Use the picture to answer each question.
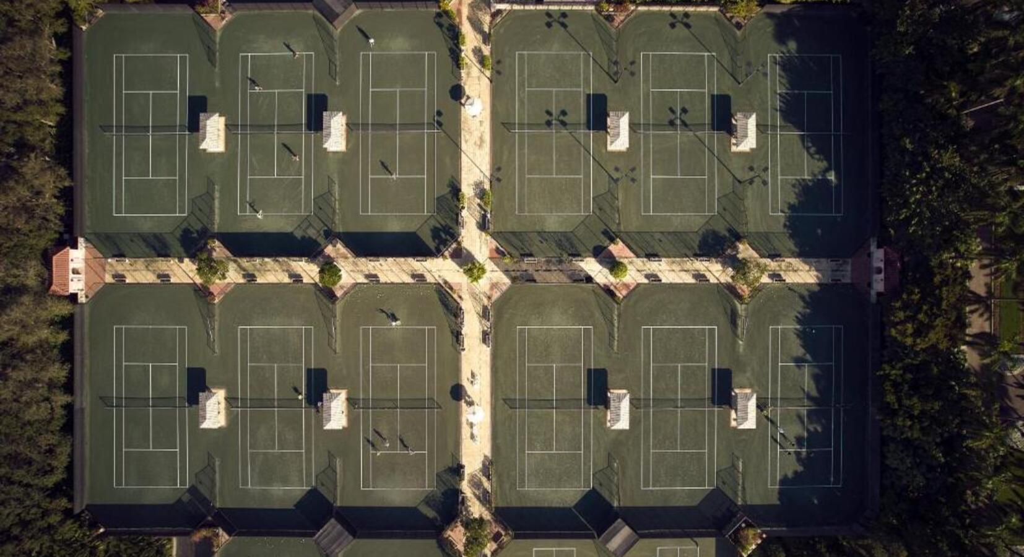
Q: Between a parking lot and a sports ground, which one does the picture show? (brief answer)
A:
sports ground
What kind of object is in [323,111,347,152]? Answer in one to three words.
building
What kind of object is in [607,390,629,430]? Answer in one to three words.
building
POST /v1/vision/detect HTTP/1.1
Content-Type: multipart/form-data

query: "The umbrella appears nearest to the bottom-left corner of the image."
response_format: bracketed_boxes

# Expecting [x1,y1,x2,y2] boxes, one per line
[466,405,483,422]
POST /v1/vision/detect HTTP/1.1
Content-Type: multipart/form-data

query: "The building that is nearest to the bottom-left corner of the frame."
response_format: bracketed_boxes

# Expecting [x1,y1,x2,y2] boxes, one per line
[199,389,226,430]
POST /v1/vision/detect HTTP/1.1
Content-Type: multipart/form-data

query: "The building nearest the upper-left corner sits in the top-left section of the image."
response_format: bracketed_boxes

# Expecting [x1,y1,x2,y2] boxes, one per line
[199,112,226,153]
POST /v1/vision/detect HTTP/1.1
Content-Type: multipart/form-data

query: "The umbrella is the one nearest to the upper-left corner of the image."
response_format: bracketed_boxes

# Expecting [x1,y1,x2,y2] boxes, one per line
[465,97,481,114]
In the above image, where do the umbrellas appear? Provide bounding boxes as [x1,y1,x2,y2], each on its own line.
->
[466,405,483,422]
[465,97,481,114]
